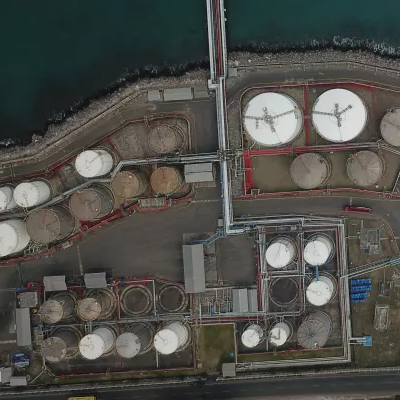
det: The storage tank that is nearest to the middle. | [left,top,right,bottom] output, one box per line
[149,163,189,196]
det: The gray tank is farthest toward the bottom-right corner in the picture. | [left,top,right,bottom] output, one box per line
[298,307,336,350]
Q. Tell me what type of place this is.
industrial area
